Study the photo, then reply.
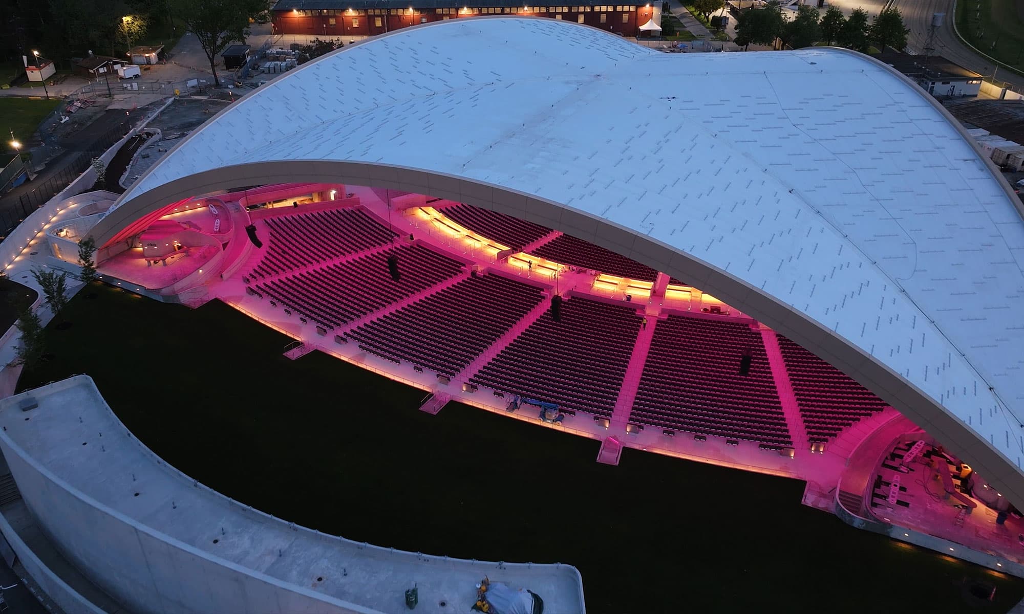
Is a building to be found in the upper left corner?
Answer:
Yes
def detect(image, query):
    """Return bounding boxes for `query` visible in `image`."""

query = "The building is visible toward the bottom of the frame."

[0,371,585,614]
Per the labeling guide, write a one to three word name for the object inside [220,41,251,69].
shed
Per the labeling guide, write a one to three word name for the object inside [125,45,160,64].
building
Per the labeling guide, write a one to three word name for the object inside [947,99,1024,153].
building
